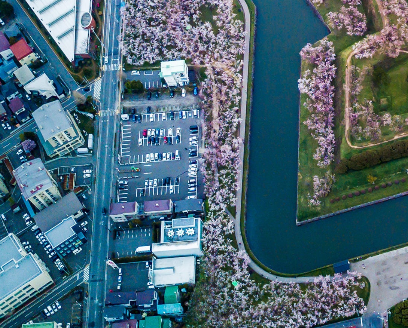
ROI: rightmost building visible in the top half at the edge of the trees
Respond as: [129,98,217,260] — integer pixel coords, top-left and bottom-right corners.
[160,61,189,87]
